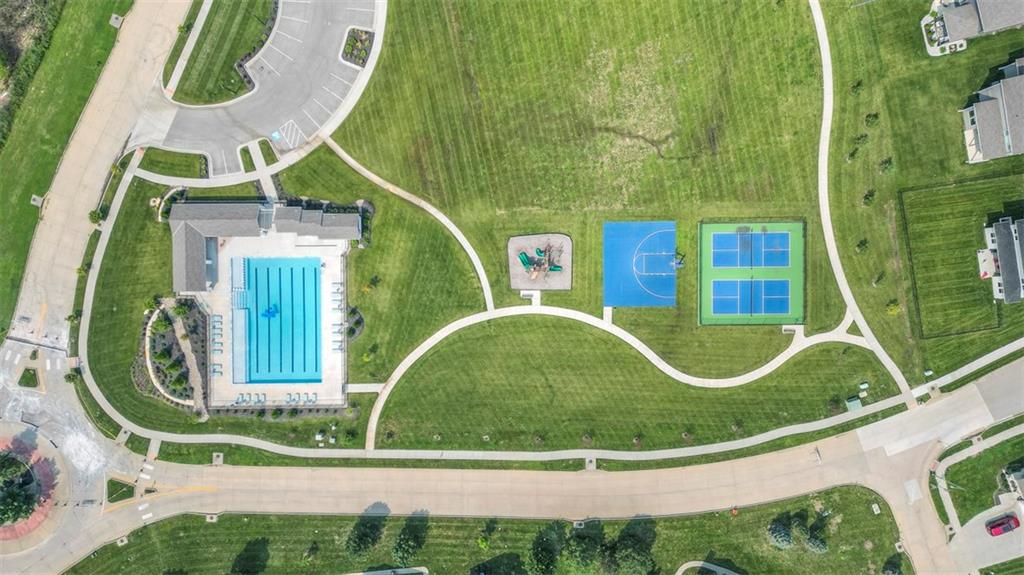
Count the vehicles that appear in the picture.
one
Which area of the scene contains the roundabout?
bottom left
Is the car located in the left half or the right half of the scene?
right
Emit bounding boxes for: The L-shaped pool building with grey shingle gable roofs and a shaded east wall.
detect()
[167,204,264,292]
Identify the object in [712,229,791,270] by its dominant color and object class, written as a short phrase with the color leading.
blue sports court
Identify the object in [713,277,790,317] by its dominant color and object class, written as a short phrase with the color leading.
blue sports court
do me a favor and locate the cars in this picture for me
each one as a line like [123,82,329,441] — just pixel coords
[987,515,1020,535]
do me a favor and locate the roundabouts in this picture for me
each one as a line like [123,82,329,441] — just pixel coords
[0,420,72,557]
